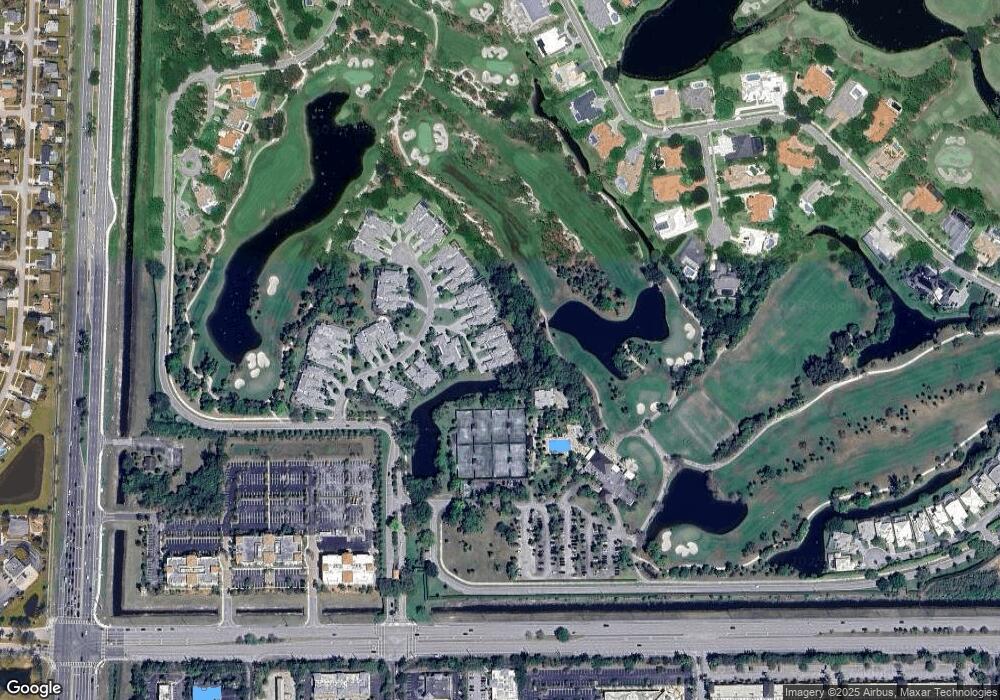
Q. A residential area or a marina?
residential area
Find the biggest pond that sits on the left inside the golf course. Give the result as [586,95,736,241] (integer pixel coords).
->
[206,93,376,361]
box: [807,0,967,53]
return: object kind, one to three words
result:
pond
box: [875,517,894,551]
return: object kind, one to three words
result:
house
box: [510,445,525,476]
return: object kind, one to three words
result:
tennis court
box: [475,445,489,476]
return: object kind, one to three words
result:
tennis court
